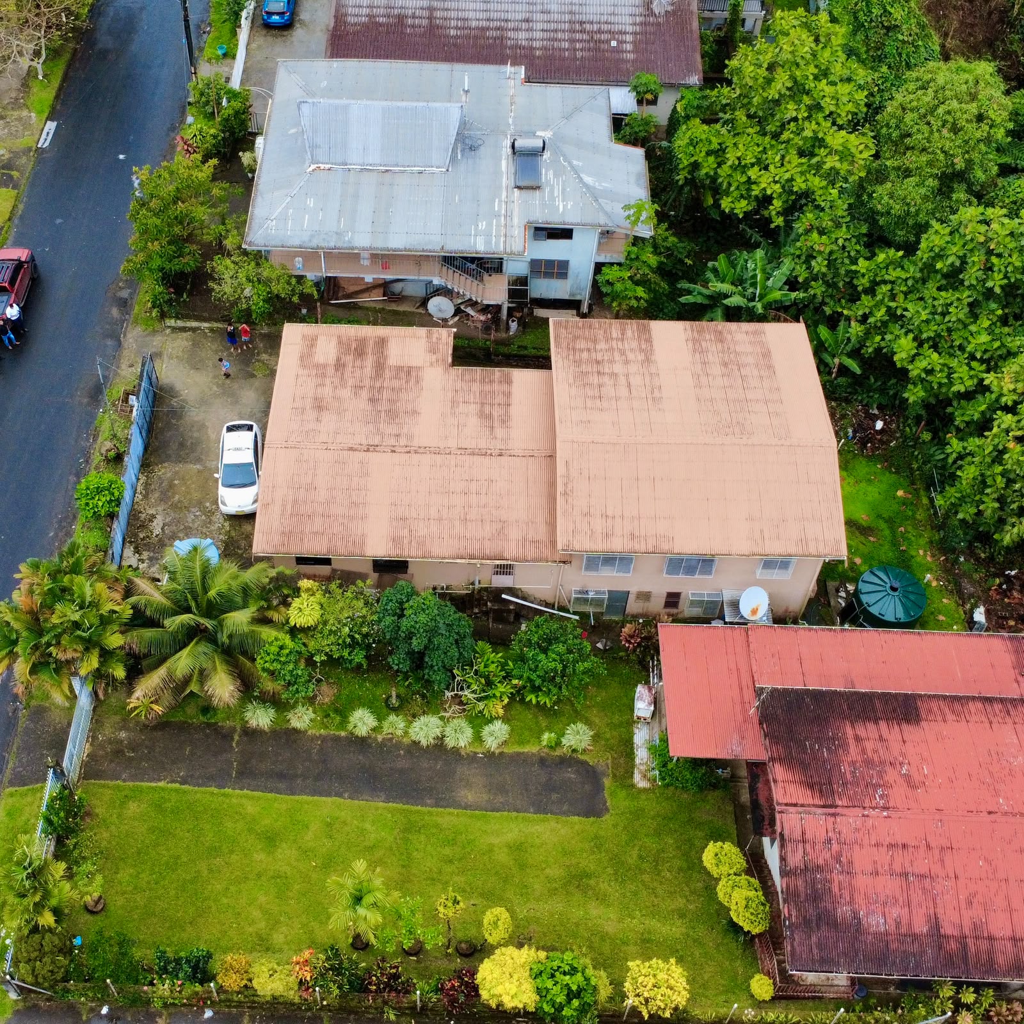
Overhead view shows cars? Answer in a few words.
Yes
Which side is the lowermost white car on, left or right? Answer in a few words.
left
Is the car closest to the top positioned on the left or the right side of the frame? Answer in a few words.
left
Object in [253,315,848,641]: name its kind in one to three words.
house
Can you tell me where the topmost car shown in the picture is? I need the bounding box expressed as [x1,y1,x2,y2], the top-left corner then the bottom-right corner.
[261,0,296,24]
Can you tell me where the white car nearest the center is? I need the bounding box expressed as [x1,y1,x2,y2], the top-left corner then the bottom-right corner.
[213,422,264,515]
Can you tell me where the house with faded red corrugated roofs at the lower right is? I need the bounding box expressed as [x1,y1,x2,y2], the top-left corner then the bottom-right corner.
[656,619,1024,995]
